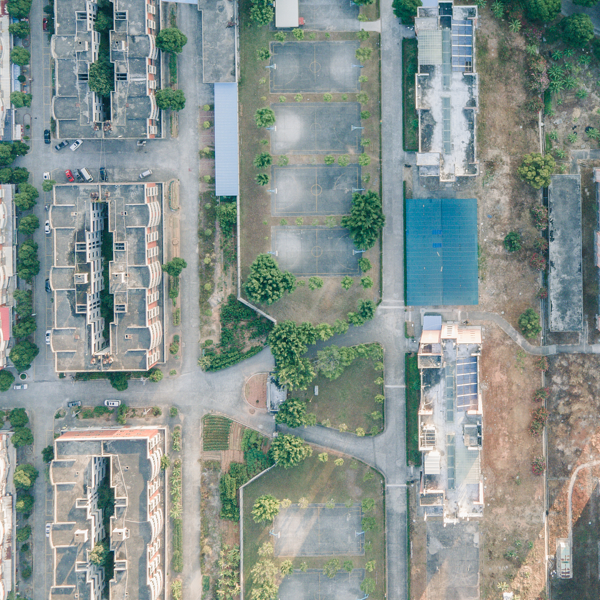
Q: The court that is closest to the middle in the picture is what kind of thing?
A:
basketball court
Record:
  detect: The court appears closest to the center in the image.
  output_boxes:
[271,225,362,277]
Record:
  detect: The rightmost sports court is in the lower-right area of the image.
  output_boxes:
[427,521,482,600]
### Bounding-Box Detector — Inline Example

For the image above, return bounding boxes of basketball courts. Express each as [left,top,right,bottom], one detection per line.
[270,102,362,155]
[271,225,362,277]
[270,41,361,94]
[273,503,364,558]
[271,164,362,217]
[278,568,366,600]
[270,0,361,33]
